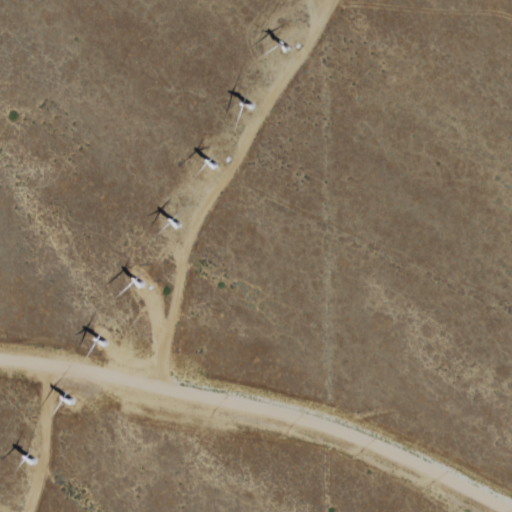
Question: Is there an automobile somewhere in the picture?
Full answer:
No, I can't see a single automobile in this photo.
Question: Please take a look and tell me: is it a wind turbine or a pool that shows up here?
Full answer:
The image shows a wind turbine.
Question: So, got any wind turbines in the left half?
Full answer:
Yes, looking in the left half, one can make out a wind turbine.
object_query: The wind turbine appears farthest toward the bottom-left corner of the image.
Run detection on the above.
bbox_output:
[14,437,40,472]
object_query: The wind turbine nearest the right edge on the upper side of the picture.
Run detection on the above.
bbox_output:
[264,31,302,56]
